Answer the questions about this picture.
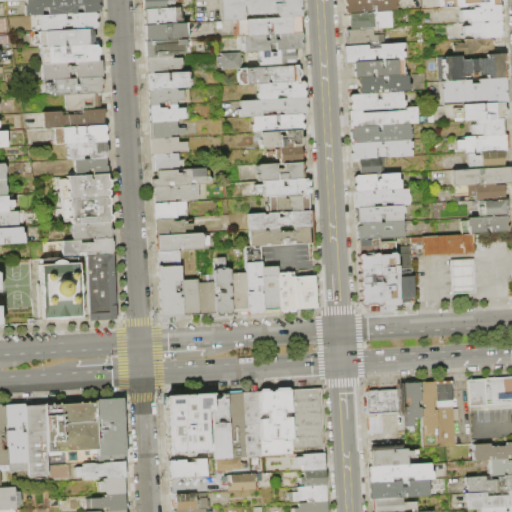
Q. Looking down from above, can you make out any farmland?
No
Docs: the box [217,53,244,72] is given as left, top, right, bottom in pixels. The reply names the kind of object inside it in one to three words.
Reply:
house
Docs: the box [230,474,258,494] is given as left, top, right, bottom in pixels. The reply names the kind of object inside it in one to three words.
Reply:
house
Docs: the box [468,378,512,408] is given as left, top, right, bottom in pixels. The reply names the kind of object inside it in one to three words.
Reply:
building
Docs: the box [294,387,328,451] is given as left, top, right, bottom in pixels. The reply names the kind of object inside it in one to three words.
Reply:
building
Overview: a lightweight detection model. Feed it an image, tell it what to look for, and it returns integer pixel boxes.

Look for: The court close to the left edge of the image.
[4,262,32,310]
